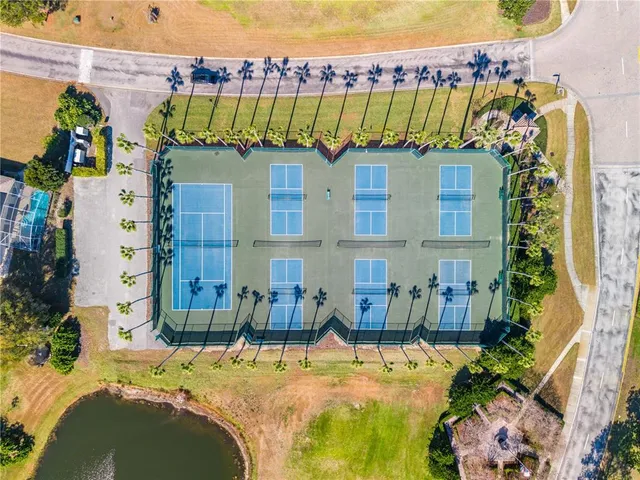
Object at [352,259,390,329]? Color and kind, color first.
blue sports court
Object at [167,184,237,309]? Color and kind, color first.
blue tennis court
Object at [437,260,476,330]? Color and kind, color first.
blue sports court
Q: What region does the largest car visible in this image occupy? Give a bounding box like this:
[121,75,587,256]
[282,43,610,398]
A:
[191,72,219,86]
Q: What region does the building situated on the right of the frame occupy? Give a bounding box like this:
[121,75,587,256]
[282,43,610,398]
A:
[506,112,541,148]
